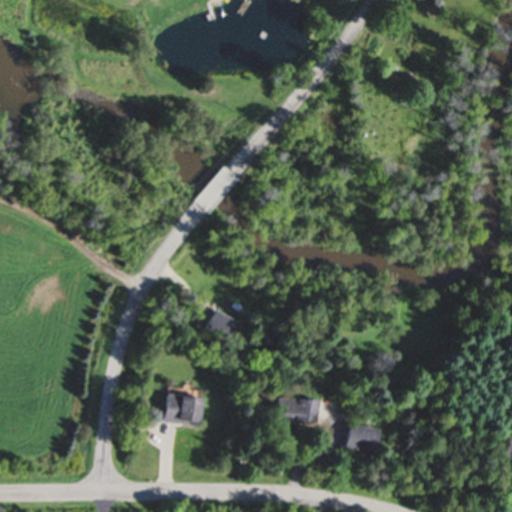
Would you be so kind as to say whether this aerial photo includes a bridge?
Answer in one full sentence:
Yes, there's a bridge here.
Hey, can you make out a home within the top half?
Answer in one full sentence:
No, I see no home within the top half.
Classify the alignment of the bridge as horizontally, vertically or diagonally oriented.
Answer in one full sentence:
From this overhead view, the bridge appears to run diagonally.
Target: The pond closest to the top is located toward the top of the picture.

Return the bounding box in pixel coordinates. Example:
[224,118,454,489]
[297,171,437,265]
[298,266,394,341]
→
[156,0,315,88]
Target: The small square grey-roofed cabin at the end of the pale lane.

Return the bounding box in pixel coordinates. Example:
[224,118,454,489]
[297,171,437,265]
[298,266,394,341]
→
[208,308,234,334]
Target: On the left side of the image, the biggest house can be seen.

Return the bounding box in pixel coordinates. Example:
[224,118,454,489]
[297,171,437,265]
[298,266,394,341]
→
[166,394,205,424]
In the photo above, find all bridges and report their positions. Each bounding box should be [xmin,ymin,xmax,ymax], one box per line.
[188,166,238,222]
